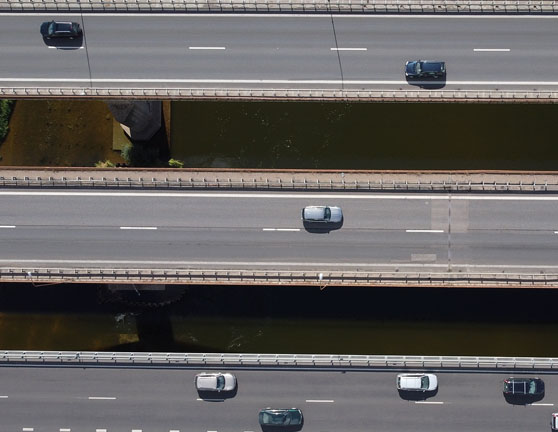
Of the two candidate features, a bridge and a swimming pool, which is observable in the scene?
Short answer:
bridge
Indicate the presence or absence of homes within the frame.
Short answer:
No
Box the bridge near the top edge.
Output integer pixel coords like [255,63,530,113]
[0,0,558,141]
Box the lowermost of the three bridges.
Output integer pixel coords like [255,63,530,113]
[0,349,558,432]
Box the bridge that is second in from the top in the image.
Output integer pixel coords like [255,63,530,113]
[0,166,558,289]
